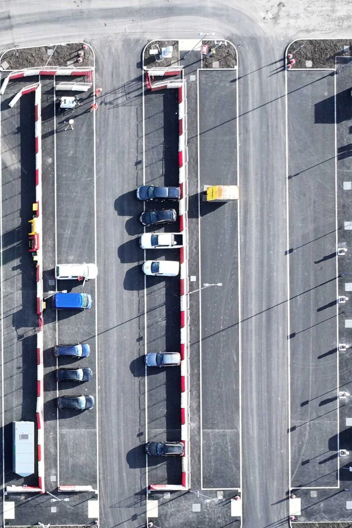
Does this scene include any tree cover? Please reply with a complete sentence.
No, the picture contains no tree cover.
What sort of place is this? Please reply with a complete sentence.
The picture captures a parking lot.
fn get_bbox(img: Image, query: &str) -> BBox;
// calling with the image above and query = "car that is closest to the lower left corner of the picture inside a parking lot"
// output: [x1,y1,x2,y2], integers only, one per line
[56,393,95,411]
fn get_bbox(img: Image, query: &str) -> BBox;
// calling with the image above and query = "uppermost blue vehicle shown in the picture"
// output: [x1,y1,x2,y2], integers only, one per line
[136,182,182,202]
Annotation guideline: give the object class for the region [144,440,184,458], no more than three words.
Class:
car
